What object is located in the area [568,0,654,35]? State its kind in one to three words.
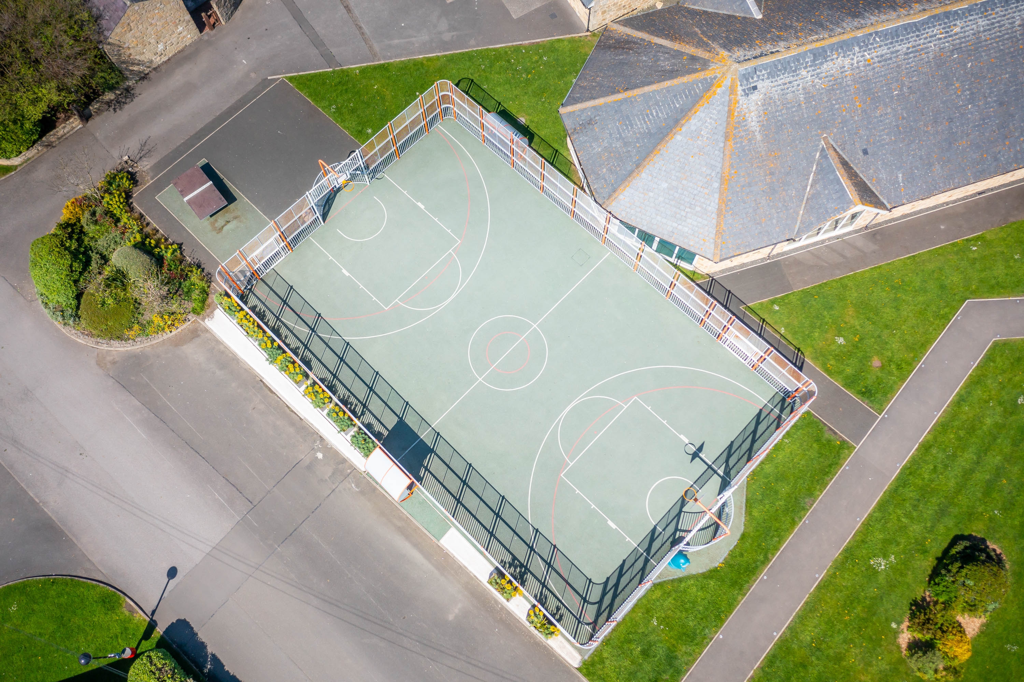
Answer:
house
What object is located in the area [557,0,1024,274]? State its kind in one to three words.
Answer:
building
